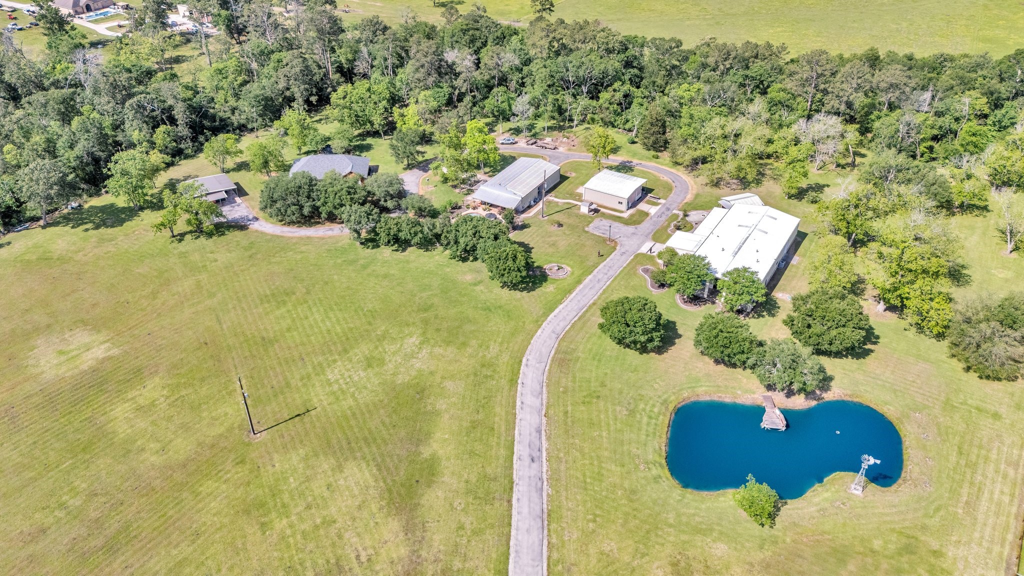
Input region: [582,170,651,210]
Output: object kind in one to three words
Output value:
building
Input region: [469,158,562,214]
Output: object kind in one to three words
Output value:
building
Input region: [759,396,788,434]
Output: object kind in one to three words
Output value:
pier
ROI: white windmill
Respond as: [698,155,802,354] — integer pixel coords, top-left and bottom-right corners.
[850,456,881,494]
